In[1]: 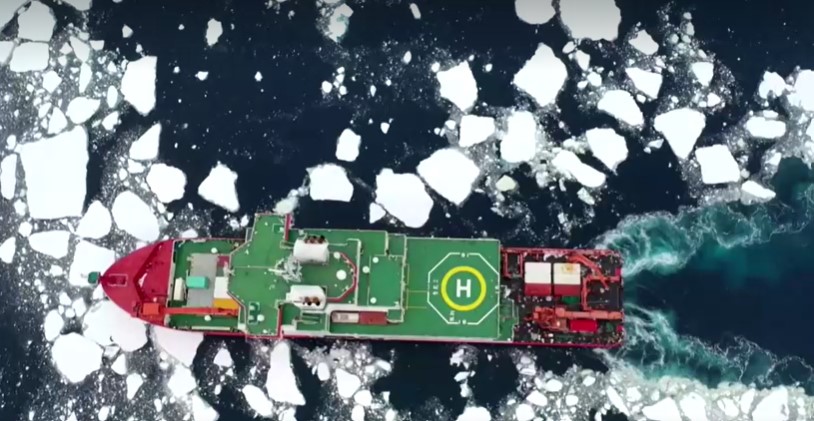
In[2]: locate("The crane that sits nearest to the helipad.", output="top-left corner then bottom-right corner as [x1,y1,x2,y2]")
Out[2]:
[529,304,621,330]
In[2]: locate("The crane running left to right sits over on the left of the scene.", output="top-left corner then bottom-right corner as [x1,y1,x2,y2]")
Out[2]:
[134,303,240,316]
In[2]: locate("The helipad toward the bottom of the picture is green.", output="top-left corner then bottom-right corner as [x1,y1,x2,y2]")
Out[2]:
[402,236,501,347]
